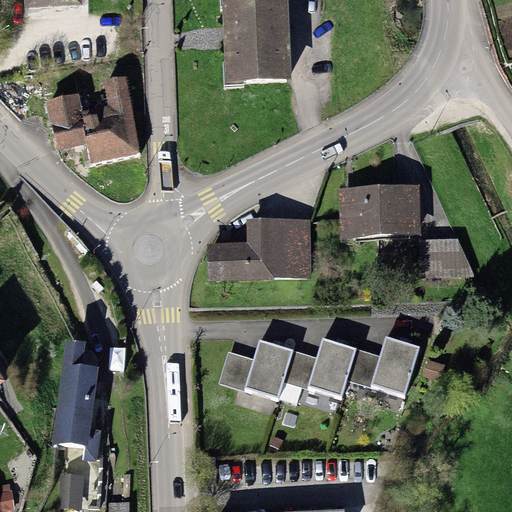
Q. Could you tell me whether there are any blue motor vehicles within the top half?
Yes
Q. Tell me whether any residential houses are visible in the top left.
Yes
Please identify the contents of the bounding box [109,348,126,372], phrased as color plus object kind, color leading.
white gazebo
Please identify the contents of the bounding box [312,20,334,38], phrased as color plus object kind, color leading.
blue car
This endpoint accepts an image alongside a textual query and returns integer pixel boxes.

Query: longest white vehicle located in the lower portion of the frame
[164,362,181,425]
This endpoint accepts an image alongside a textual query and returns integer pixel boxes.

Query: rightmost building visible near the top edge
[219,0,292,91]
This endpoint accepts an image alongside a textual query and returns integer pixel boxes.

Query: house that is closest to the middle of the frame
[208,218,311,284]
